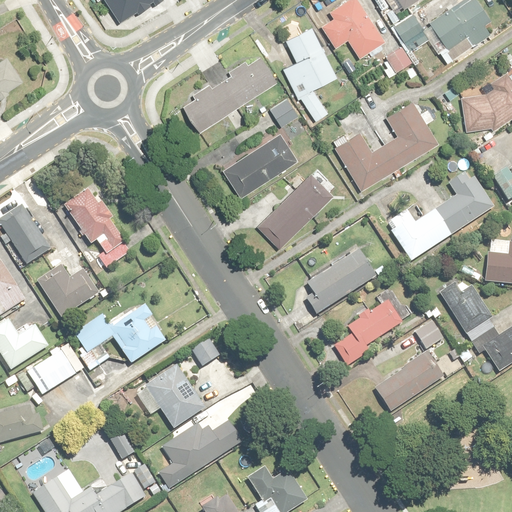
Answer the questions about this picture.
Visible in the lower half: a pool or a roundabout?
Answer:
pool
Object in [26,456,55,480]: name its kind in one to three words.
swimming pool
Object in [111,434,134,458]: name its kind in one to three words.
shed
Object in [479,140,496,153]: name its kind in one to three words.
vehicle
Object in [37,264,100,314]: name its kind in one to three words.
house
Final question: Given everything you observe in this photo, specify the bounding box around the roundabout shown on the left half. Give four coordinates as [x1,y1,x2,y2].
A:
[88,68,128,108]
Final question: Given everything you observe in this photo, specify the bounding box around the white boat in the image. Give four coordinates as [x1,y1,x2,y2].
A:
[462,268,480,280]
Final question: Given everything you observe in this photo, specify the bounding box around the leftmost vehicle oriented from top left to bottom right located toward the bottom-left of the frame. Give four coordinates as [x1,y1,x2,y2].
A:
[115,460,128,476]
